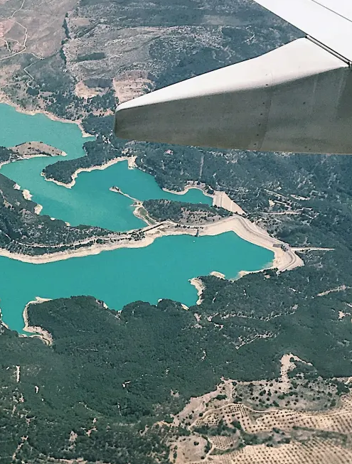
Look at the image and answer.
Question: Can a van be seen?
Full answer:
No, there is no van in the image.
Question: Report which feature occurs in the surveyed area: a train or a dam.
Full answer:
Of the two, only a dam appears.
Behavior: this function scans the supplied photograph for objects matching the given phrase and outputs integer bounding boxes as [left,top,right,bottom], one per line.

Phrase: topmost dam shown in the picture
[212,190,244,215]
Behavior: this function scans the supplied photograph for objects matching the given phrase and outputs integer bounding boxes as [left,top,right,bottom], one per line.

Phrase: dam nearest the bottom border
[212,213,303,273]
